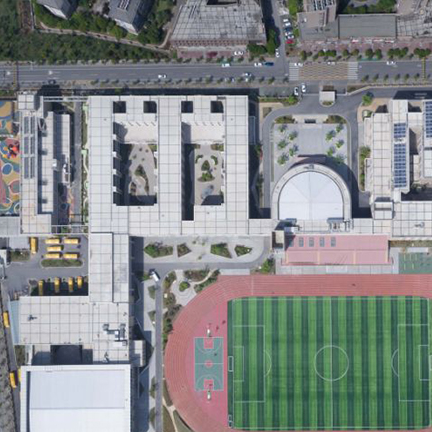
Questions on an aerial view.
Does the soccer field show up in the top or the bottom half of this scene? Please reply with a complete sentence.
You can find the soccer field in the bottom half.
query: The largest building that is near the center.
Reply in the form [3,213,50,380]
[87,95,276,303]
